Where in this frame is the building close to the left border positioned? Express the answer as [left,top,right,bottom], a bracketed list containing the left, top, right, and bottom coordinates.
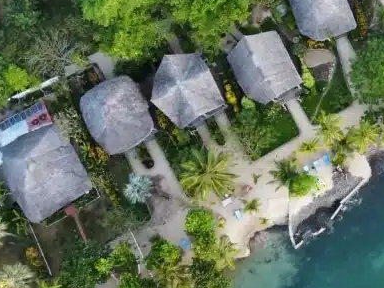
[0,99,93,227]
